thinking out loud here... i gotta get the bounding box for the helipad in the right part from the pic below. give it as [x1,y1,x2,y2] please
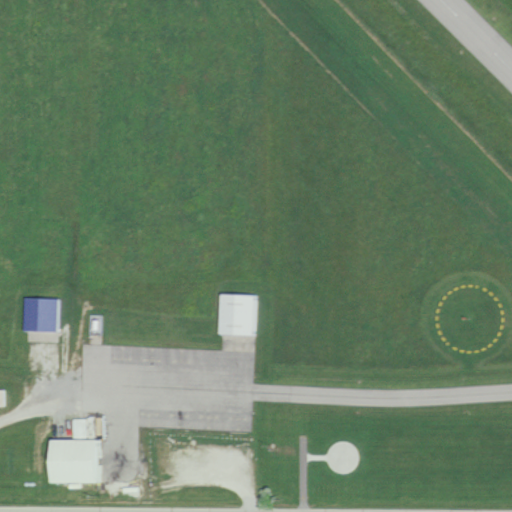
[308,440,360,474]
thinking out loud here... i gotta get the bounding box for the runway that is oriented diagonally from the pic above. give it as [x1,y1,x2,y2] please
[420,0,512,92]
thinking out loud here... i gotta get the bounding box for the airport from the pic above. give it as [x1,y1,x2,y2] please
[82,345,512,480]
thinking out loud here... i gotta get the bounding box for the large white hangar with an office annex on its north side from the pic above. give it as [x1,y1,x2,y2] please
[46,440,104,484]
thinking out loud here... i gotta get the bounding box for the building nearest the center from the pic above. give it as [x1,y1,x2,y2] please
[218,294,258,335]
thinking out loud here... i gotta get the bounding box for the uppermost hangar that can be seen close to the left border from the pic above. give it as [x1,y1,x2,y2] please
[23,297,61,332]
